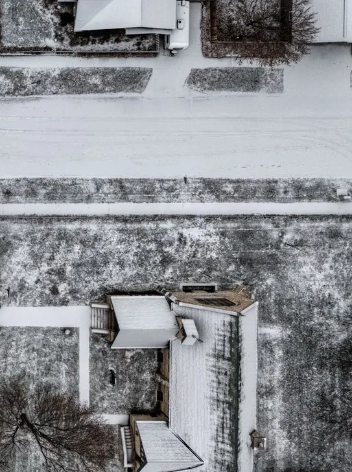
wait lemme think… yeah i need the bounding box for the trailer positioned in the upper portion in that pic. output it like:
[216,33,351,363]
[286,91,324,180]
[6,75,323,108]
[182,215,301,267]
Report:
[159,0,188,64]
